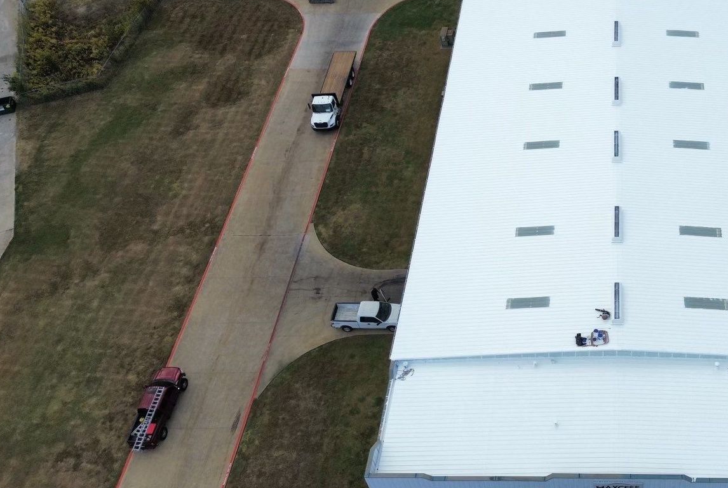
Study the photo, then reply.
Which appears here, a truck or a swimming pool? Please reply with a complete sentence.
There is a truck in the scene.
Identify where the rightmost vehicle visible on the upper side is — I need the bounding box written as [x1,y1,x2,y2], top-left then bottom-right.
[306,50,357,134]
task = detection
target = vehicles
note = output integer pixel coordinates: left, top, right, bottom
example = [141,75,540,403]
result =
[330,300,398,333]
[124,365,187,448]
[306,50,357,134]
